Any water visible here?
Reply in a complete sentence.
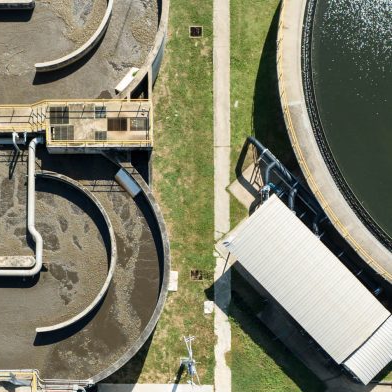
Yes, the picture does contain water.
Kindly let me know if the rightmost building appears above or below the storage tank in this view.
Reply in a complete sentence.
Within the scene, the rightmost building can be found below the storage tank.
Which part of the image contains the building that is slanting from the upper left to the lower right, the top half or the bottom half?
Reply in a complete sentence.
The bottom half of the photo is where the building that is slanting from the upper left to the lower right is.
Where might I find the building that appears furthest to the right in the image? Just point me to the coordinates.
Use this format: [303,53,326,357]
[341,314,392,385]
